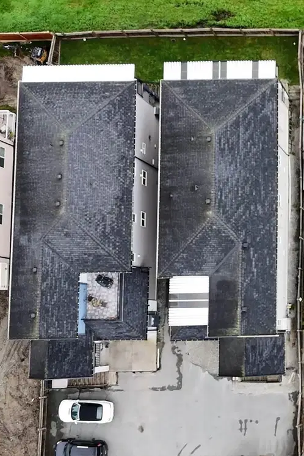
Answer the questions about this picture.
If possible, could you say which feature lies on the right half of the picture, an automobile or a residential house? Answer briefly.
residential house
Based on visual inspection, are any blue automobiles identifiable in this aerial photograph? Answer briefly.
No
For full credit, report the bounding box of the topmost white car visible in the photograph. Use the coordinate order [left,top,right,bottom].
[59,396,117,426]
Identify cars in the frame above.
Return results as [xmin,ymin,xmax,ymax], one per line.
[59,396,117,426]
[55,438,110,456]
